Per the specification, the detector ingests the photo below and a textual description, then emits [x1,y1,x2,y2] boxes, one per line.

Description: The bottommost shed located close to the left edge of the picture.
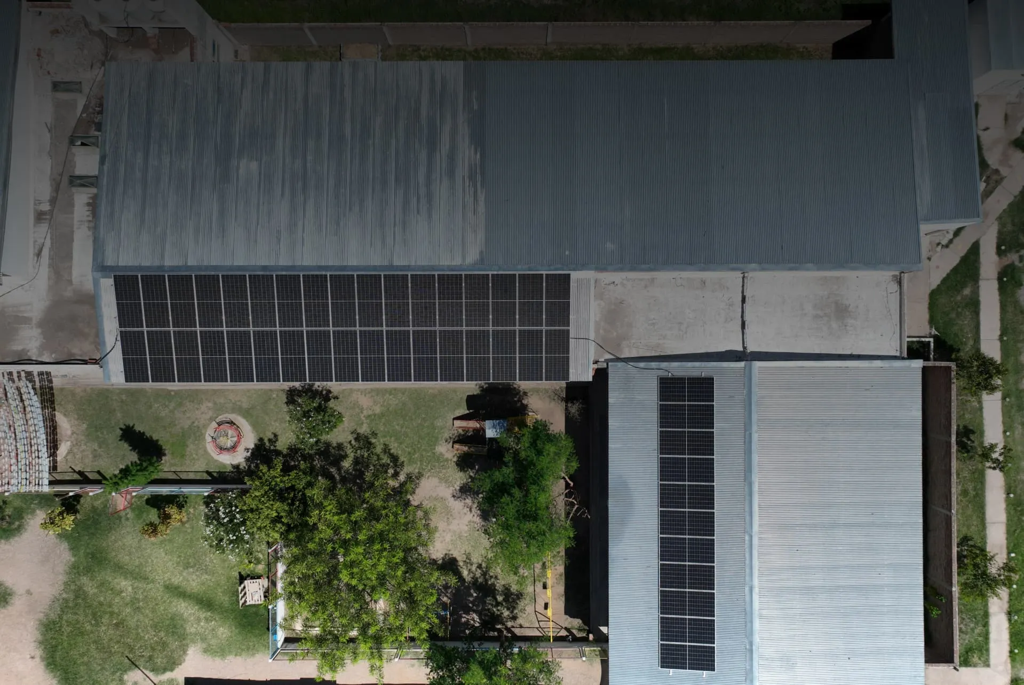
[0,371,70,491]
